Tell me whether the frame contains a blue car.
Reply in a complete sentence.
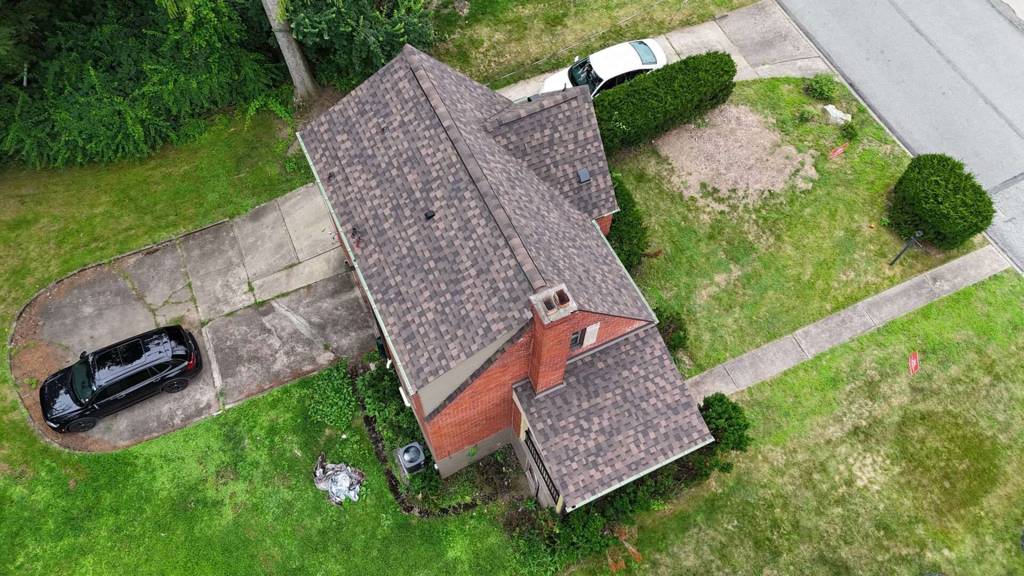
No, this view has no blue car in it.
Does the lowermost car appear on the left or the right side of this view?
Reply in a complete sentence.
The lowermost car sits on the left side.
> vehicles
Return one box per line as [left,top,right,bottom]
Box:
[38,322,204,432]
[540,40,664,97]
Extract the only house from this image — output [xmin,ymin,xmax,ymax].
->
[296,45,715,526]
